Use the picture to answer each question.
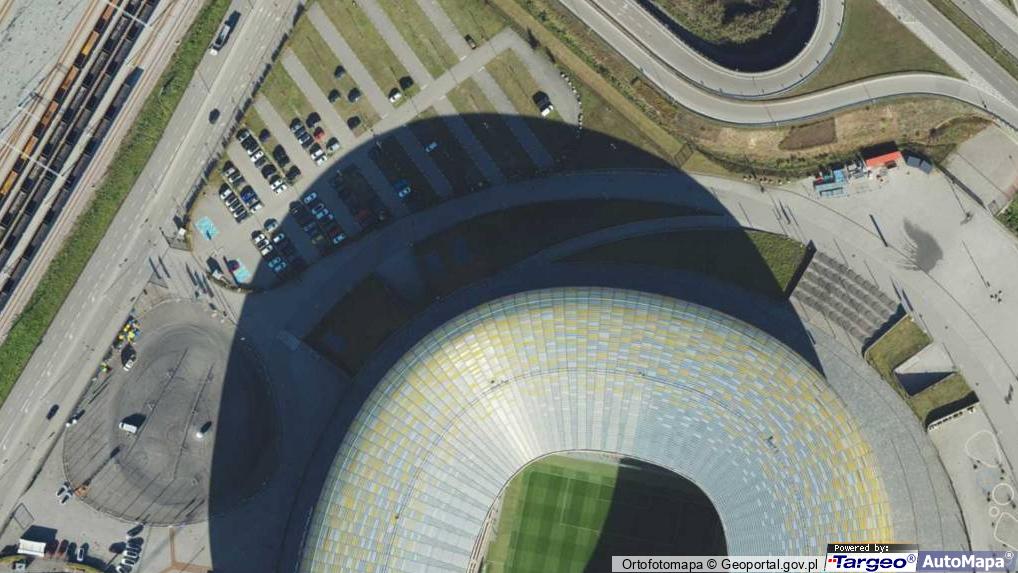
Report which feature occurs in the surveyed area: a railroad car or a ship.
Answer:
railroad car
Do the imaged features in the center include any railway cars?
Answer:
No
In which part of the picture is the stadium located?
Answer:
bottom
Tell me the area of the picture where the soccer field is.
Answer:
bottom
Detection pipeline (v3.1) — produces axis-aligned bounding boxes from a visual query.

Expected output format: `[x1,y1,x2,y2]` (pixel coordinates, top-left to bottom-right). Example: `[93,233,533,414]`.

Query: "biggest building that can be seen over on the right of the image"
[867,150,903,168]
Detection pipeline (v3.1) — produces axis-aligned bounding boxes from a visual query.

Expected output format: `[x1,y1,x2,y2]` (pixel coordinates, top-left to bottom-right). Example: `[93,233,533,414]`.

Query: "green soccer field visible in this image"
[487,461,730,573]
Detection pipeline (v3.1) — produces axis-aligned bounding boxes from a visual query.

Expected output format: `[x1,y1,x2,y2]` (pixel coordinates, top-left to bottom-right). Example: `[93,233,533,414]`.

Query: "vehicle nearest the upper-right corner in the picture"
[538,100,555,114]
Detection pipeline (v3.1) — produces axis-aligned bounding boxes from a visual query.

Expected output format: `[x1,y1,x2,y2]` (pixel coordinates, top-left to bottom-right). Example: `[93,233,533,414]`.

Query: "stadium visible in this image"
[296,284,896,573]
